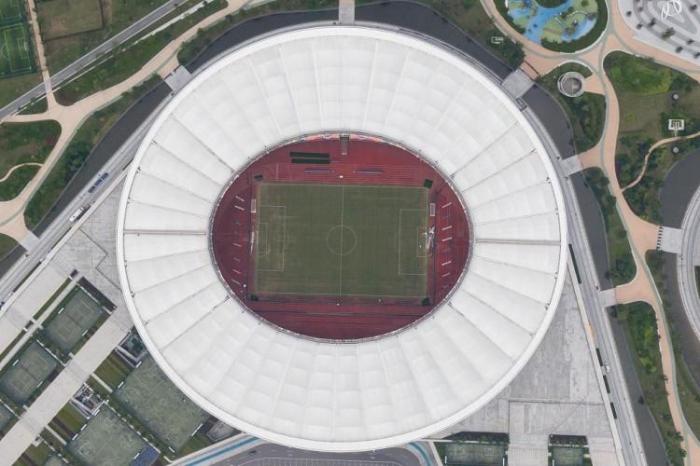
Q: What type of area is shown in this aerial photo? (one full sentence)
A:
The area seen from above is a sports ground.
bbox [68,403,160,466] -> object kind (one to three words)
sports court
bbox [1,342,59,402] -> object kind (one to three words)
sports court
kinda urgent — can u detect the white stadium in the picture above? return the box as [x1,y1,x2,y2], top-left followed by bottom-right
[117,26,566,451]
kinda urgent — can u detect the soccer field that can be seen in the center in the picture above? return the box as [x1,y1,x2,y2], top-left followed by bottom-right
[254,181,430,299]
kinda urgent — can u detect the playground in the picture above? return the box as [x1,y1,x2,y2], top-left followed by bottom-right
[495,0,604,53]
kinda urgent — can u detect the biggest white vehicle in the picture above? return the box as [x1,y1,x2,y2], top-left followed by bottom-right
[68,204,84,222]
